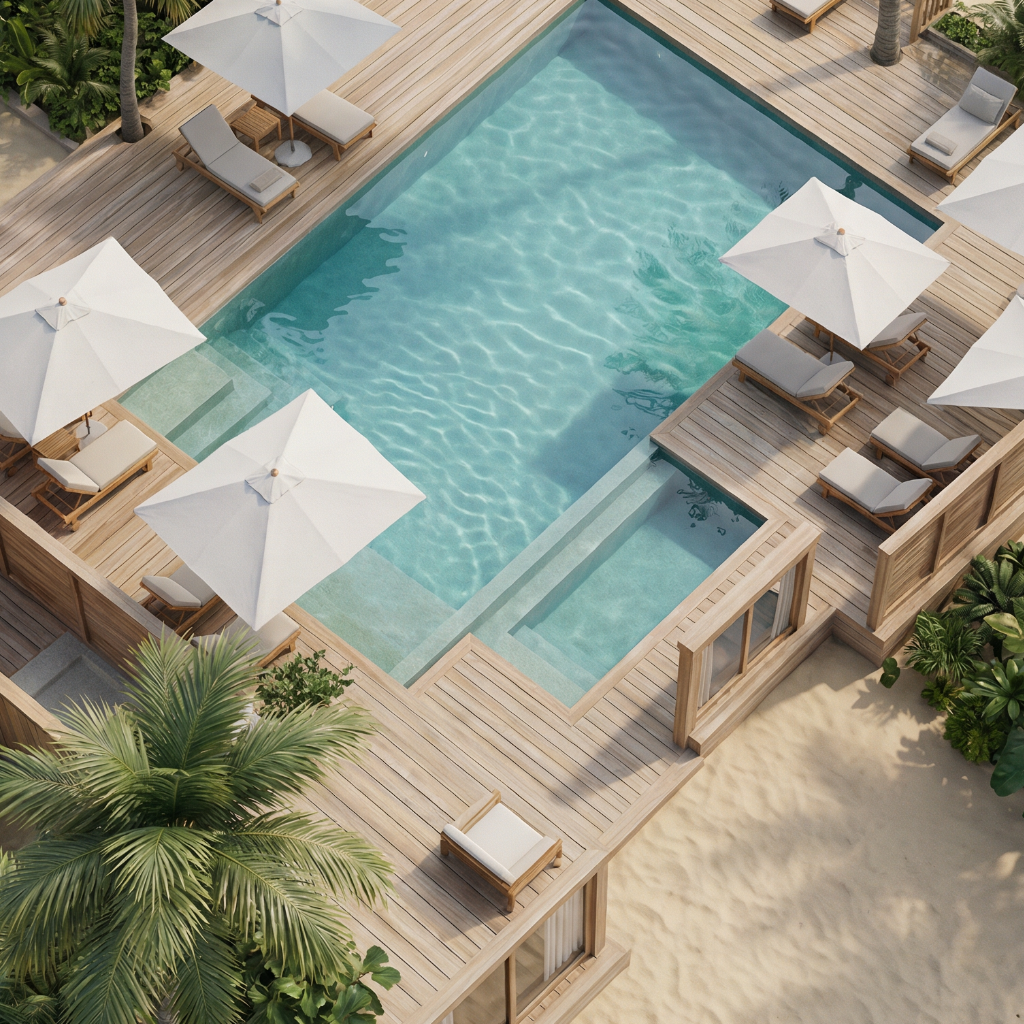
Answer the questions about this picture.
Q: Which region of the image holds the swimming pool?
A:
top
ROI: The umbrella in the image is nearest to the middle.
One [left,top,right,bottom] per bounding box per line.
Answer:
[136,389,427,626]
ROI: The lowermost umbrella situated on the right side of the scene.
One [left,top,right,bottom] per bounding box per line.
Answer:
[926,297,1024,445]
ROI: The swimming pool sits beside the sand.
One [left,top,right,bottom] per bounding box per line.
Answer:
[113,0,942,524]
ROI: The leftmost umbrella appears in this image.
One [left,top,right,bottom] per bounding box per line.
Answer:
[0,236,207,448]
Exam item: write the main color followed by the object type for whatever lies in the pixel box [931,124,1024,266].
white umbrella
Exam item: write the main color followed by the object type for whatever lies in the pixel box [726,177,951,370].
white umbrella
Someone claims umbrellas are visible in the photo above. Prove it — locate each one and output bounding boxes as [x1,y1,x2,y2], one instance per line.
[0,236,207,448]
[164,0,399,169]
[726,177,951,370]
[136,389,427,626]
[931,124,1024,266]
[926,297,1024,445]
